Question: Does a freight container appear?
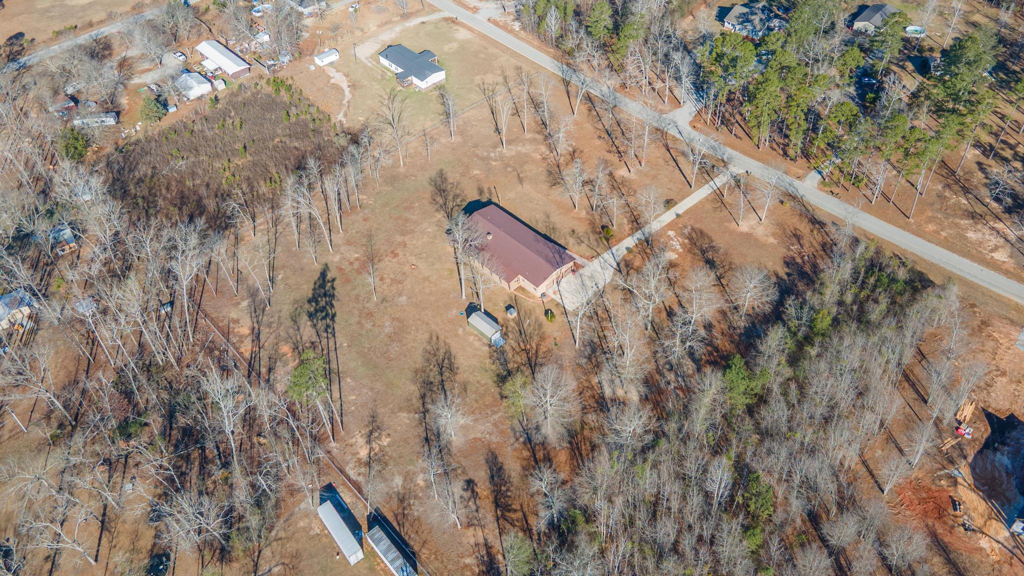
Yes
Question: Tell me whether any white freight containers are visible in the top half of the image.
No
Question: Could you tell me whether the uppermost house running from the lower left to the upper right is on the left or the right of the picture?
right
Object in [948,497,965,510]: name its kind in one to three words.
vehicle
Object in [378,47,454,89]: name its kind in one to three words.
house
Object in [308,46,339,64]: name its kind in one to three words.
shed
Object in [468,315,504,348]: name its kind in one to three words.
shed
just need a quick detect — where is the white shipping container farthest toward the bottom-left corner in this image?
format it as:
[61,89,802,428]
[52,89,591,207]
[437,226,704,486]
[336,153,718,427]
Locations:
[317,502,364,565]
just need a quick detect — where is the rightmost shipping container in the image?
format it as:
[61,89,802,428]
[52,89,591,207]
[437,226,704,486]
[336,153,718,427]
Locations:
[365,526,413,576]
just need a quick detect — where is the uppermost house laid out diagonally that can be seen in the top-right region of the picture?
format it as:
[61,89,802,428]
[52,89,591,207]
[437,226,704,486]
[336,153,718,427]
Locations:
[853,0,893,33]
